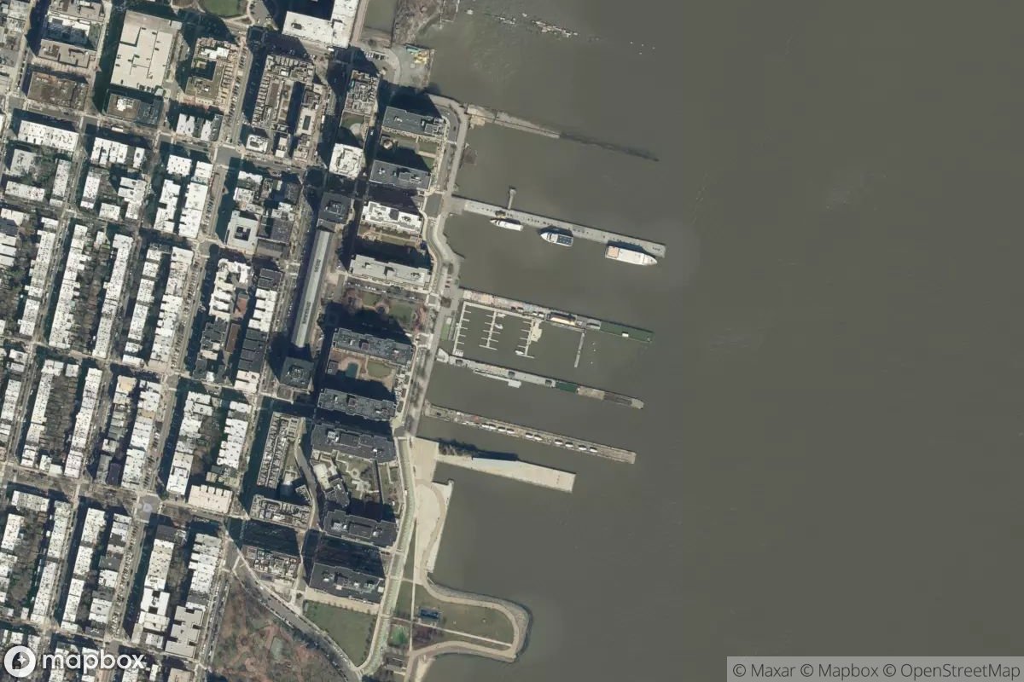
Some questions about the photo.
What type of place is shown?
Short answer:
port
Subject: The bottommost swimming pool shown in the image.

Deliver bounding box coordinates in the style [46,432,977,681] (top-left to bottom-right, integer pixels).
[345,362,358,377]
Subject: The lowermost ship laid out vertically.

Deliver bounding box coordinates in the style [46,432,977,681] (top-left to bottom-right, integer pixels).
[531,318,543,342]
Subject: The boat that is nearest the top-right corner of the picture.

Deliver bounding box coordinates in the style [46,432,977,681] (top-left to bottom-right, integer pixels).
[605,247,657,264]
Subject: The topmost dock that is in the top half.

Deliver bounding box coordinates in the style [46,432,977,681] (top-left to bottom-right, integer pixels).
[467,105,563,138]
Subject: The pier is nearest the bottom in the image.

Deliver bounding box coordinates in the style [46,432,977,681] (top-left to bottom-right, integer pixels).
[436,455,576,492]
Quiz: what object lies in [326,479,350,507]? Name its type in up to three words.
building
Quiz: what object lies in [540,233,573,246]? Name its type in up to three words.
vessel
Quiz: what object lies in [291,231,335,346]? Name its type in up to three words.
shed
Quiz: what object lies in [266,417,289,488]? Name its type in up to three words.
building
